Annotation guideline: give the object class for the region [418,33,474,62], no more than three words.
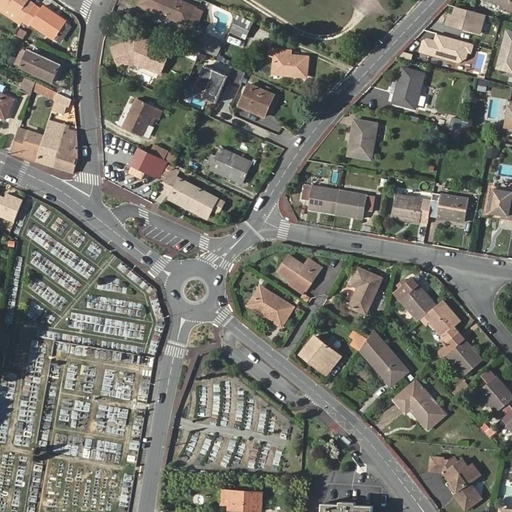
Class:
house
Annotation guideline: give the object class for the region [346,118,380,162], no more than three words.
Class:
house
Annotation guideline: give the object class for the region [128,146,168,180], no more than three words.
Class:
building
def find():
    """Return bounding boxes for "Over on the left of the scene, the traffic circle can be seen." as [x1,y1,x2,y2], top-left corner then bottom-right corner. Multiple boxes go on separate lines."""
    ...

[164,260,226,321]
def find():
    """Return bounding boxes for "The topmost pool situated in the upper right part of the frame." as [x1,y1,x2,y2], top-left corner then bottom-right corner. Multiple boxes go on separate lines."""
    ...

[474,51,487,71]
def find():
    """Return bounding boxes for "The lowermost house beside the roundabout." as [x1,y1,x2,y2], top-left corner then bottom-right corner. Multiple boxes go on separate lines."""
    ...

[246,286,295,328]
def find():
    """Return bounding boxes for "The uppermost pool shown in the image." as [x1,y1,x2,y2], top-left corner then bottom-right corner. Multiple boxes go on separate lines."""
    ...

[214,10,229,32]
